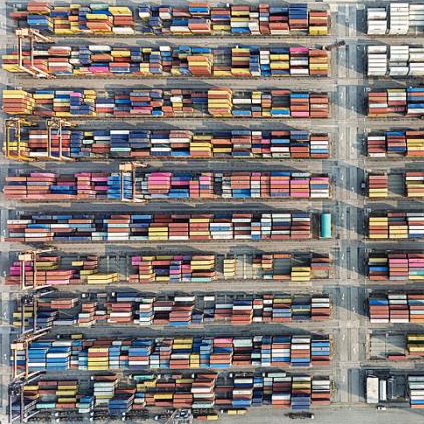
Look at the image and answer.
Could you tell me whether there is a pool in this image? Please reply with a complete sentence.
No, there isn't any pool down there.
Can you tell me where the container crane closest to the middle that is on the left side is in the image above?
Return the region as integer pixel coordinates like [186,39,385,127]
[116,153,154,204]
